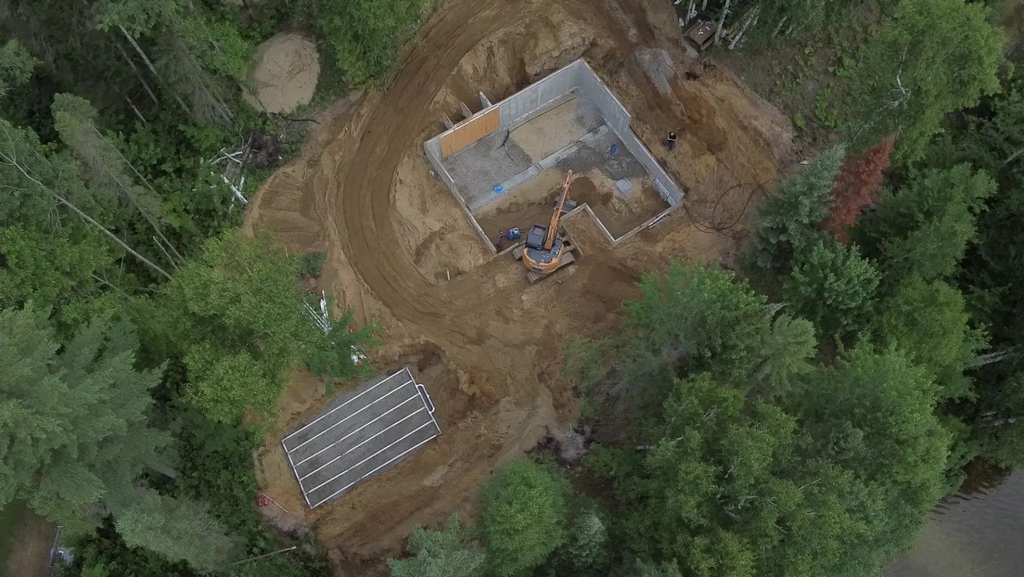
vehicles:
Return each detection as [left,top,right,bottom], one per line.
[508,164,586,283]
